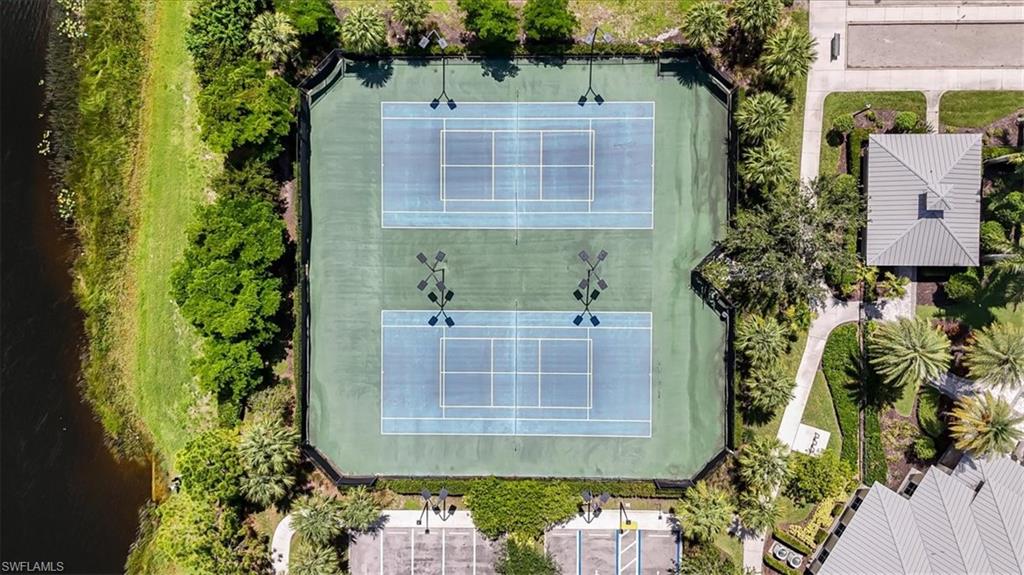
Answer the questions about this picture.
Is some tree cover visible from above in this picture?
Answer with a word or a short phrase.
Yes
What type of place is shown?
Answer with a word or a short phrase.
sports ground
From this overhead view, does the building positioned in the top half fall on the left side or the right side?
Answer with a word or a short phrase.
right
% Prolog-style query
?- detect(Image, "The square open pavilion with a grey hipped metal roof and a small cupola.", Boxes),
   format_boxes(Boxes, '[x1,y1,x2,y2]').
[859,133,981,267]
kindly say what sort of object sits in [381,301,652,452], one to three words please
tennis court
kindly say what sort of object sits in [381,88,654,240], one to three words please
tennis court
